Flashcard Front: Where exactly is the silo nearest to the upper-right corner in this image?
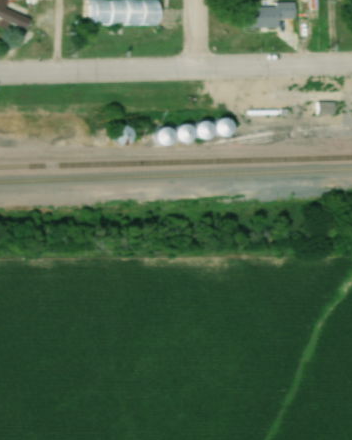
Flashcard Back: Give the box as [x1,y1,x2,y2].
[212,118,234,137]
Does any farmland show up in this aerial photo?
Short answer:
Yes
